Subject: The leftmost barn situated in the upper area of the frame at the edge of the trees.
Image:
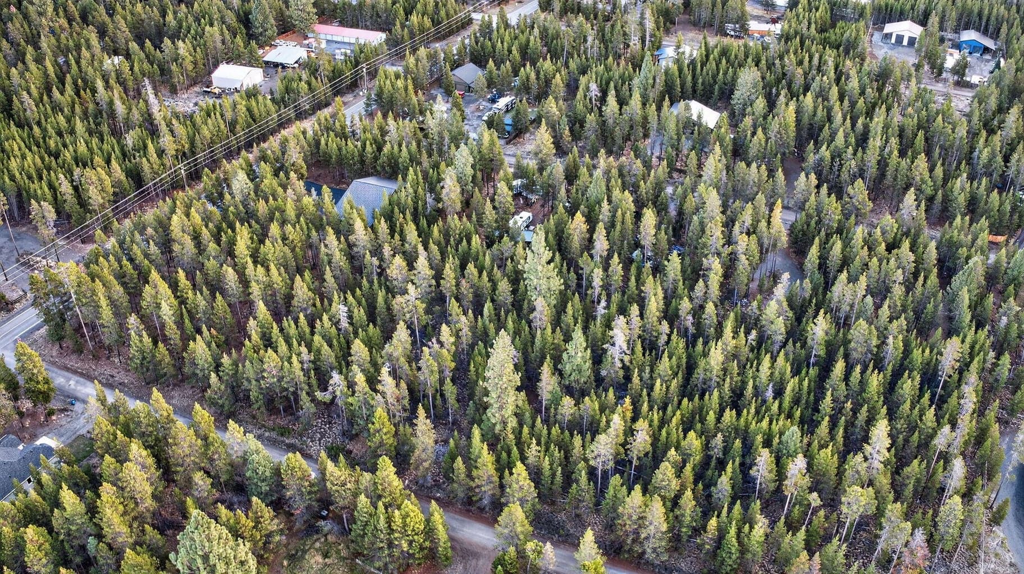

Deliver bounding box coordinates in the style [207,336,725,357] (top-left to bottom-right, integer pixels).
[209,64,266,89]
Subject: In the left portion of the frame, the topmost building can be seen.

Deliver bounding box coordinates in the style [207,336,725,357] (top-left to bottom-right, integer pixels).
[306,24,386,44]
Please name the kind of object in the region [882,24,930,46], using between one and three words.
building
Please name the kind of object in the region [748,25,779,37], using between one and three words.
building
